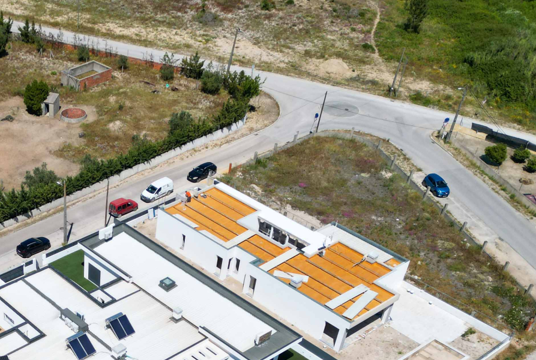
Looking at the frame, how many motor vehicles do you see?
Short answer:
5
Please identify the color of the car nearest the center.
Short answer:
black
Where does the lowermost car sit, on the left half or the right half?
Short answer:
left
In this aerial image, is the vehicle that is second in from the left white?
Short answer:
No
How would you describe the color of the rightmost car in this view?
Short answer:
blue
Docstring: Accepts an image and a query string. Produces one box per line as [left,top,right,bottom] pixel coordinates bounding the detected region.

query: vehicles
[186,161,220,184]
[108,195,140,219]
[141,174,175,202]
[12,236,53,261]
[421,174,452,199]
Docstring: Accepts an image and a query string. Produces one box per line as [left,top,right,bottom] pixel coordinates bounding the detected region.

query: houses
[155,176,410,353]
[20,223,302,360]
